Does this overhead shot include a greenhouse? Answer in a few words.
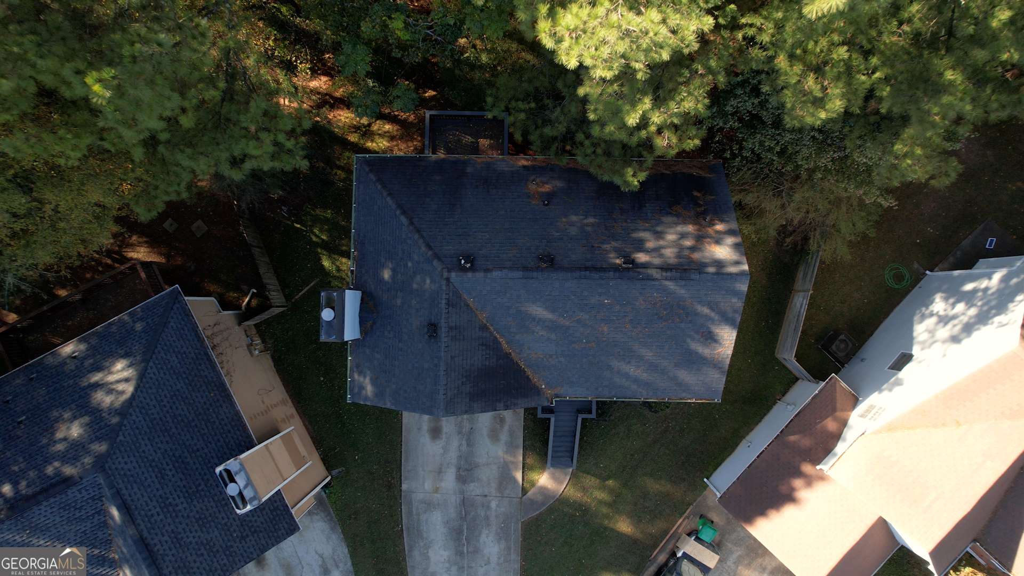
No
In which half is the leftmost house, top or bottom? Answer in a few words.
bottom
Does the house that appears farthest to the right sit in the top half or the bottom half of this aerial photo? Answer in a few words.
bottom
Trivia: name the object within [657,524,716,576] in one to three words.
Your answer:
vehicle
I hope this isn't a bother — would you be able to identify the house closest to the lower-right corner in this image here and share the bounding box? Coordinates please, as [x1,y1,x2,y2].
[695,255,1024,576]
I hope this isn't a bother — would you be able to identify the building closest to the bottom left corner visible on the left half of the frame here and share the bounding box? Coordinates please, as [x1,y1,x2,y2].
[0,285,330,576]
